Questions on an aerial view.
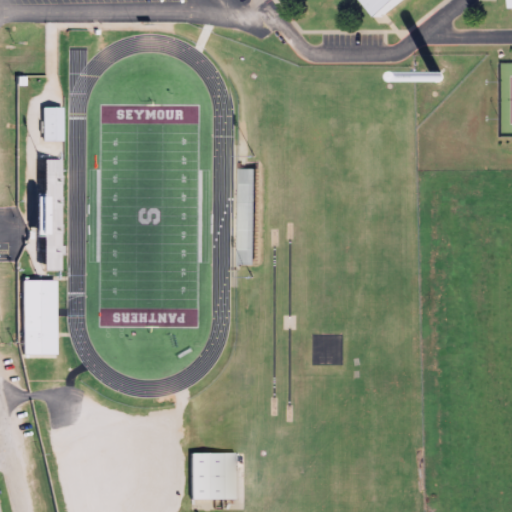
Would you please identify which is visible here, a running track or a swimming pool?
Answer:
running track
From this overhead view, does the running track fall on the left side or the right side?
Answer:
left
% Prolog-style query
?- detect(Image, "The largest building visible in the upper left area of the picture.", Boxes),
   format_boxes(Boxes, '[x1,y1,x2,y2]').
[42,107,68,142]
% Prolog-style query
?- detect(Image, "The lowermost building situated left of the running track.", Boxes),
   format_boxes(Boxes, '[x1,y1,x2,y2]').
[23,279,62,356]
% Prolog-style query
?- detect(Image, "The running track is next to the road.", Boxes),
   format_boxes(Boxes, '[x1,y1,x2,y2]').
[68,35,234,397]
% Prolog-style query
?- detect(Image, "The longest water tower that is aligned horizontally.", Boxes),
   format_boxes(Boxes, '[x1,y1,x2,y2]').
[382,70,445,84]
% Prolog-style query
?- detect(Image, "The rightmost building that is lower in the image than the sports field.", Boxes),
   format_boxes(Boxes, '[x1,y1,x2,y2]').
[192,454,239,500]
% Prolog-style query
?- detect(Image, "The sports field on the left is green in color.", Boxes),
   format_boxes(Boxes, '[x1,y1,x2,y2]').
[86,53,212,378]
